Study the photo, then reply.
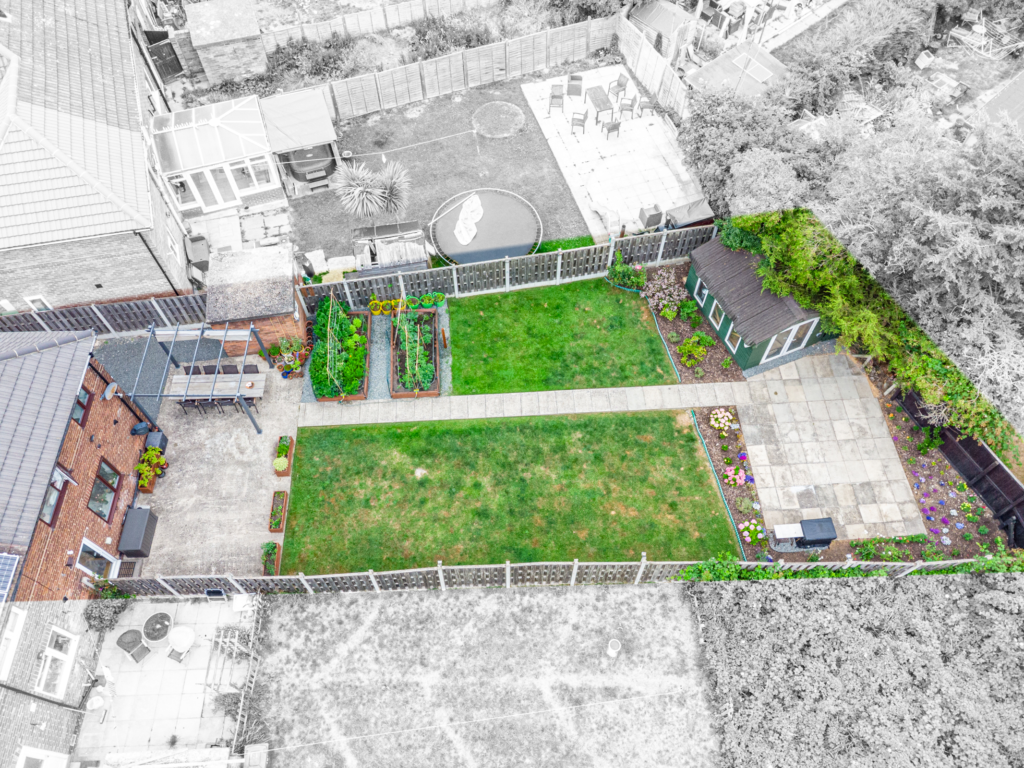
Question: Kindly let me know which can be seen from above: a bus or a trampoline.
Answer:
trampoline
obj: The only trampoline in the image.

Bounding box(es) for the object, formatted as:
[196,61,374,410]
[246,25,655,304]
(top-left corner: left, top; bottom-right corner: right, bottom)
[430,189,543,266]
